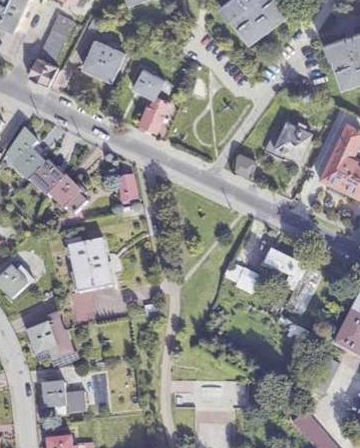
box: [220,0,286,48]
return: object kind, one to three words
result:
building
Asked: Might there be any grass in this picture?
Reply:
Yes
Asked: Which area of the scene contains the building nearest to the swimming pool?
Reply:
bottom left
